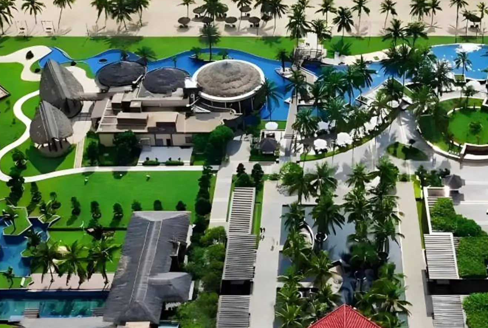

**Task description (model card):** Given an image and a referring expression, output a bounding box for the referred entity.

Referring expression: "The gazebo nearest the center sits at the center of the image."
[259,140,278,161]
